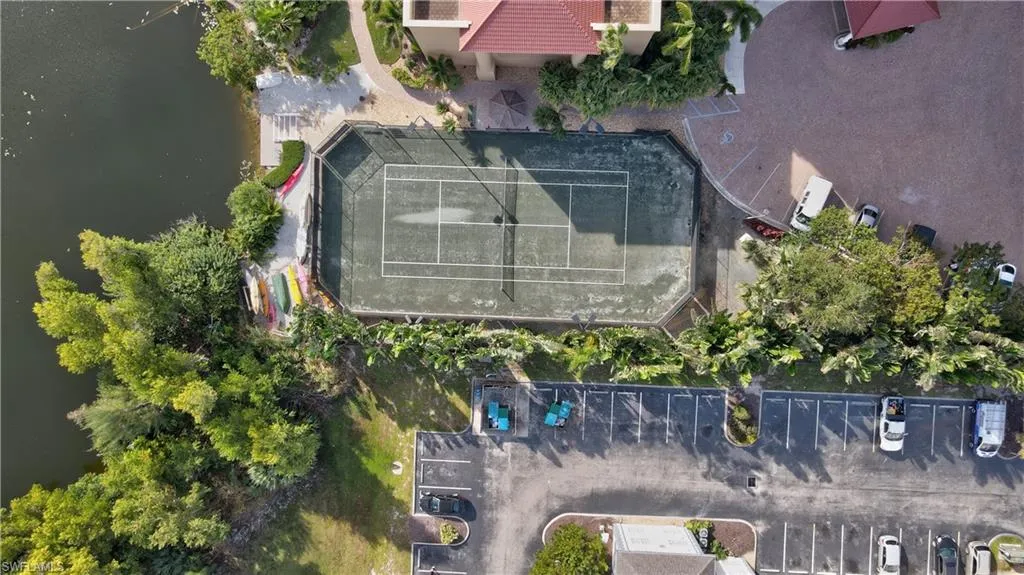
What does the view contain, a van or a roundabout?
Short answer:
van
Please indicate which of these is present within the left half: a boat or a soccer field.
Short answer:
boat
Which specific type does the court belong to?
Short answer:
tennis court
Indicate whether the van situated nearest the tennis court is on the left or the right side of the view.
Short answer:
right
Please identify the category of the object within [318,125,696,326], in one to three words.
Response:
tennis court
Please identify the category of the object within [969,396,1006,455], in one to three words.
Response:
van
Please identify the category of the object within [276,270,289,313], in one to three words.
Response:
boat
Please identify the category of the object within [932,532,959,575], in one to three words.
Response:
car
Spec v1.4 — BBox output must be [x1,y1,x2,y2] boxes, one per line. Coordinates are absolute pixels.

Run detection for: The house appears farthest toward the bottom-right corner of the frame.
[612,517,752,575]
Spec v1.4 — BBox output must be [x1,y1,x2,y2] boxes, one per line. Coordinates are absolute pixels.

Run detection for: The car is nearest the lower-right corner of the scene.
[966,538,992,575]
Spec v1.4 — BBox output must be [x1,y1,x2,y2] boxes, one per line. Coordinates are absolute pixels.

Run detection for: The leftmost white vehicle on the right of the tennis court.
[787,174,832,233]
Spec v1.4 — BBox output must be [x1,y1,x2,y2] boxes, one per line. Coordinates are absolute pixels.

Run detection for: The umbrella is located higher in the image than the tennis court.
[488,84,528,125]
